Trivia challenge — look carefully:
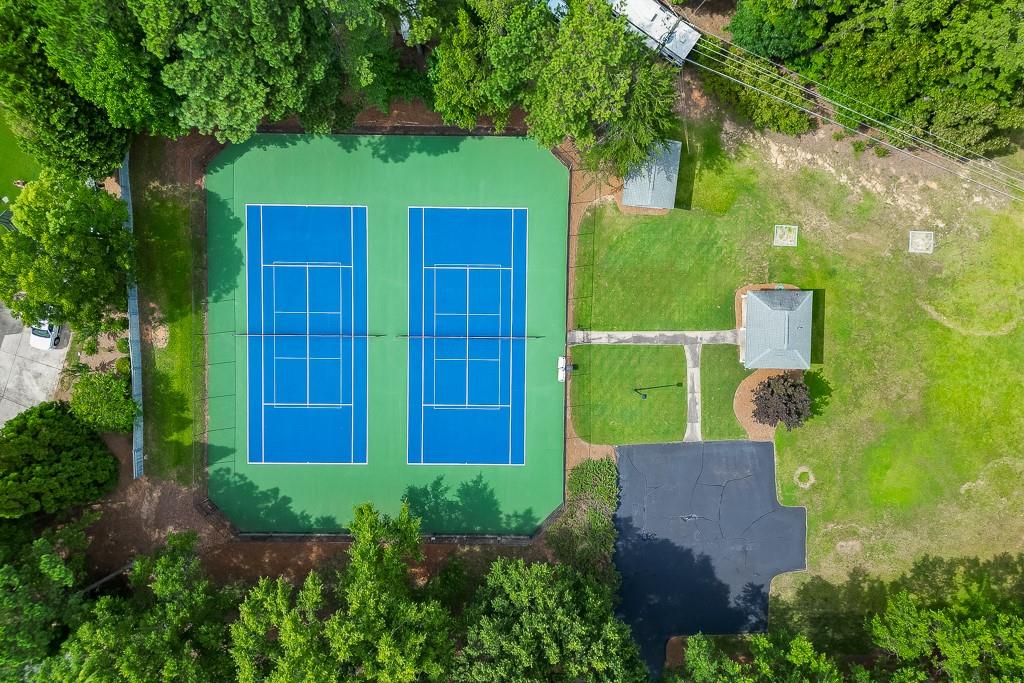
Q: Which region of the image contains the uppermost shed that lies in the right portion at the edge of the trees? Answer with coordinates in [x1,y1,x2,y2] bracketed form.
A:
[622,138,681,209]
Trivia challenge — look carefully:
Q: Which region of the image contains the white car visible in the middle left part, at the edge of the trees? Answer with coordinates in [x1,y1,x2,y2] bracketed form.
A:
[26,320,55,355]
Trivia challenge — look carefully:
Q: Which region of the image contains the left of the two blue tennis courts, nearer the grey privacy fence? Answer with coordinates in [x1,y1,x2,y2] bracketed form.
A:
[246,204,367,464]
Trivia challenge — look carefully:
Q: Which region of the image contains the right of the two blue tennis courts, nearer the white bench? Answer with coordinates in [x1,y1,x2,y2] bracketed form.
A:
[407,207,528,465]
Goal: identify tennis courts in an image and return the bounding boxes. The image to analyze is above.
[246,204,367,464]
[407,207,528,465]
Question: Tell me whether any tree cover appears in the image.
Yes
